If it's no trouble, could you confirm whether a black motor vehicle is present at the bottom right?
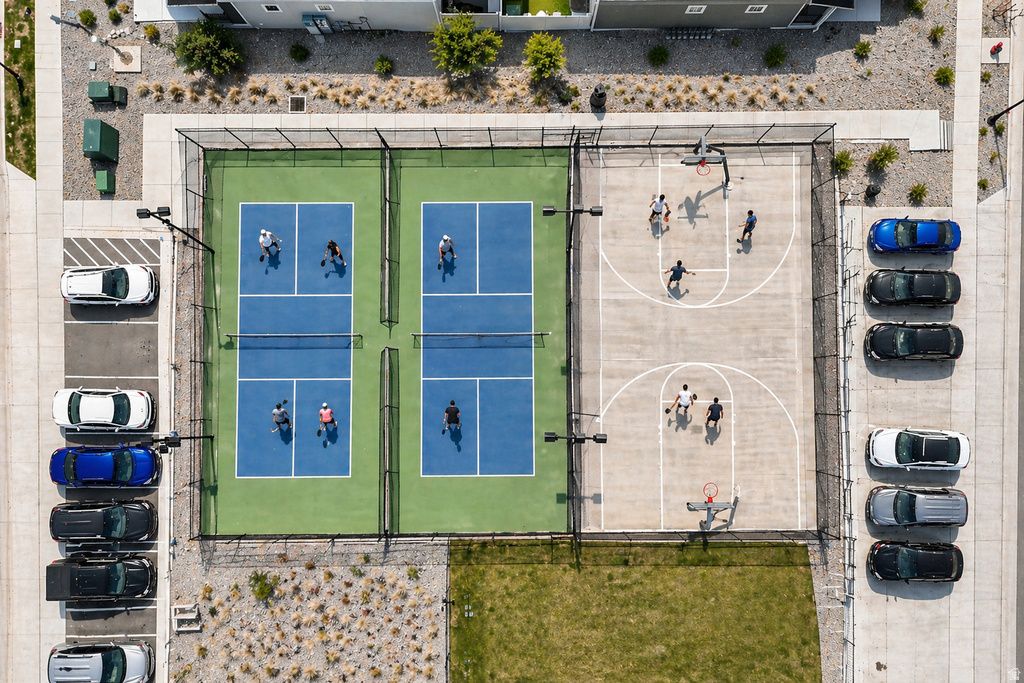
Yes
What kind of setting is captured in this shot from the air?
sports ground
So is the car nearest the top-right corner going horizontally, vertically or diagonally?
horizontally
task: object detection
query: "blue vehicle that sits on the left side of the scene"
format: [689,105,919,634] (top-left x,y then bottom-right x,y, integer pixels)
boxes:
[49,443,163,490]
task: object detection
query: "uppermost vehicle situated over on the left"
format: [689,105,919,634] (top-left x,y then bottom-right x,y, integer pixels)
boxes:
[59,261,161,308]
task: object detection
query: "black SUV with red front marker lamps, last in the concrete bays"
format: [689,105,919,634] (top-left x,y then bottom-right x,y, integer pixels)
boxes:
[866,538,966,587]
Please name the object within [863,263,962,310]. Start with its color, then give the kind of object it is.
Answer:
black car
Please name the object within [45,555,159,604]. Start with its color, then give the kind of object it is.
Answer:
black truck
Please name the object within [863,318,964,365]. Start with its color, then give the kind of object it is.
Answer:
black car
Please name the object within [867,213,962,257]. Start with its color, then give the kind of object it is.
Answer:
blue car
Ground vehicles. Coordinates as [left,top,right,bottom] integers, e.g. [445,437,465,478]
[53,386,158,433]
[863,263,962,310]
[48,498,159,546]
[45,641,156,683]
[865,483,970,531]
[59,261,161,308]
[867,213,962,257]
[863,318,964,365]
[49,443,163,490]
[866,538,966,587]
[45,555,159,604]
[866,426,972,473]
